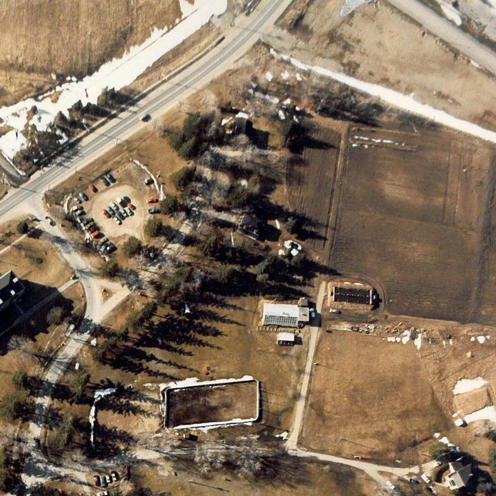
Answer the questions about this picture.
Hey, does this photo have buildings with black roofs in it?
Yes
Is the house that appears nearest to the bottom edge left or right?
right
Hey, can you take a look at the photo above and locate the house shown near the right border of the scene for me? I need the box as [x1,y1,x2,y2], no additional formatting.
[434,455,474,493]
